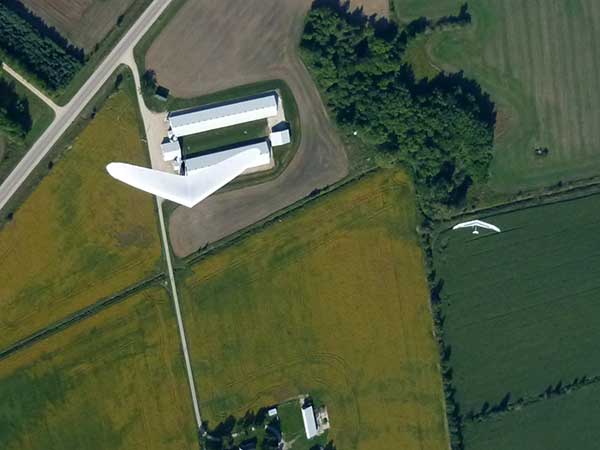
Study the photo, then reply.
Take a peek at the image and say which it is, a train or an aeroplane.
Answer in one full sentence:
This aerial view contains an aeroplane.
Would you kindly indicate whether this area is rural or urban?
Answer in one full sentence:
The area shown here is rural.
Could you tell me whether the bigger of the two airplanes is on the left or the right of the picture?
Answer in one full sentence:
You can find the bigger of the two airplanes on the left side of the picture.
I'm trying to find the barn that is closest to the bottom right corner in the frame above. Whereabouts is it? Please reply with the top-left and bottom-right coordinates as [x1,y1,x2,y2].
[302,407,318,439]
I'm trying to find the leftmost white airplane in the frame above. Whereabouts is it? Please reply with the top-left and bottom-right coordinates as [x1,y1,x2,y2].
[105,146,265,208]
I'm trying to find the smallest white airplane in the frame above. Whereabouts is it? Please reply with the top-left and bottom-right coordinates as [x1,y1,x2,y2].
[452,220,500,233]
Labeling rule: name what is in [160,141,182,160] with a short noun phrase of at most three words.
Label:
barn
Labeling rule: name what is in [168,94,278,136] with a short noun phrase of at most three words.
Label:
barn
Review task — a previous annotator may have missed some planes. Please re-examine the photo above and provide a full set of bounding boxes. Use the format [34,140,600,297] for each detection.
[105,146,265,208]
[452,220,500,233]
